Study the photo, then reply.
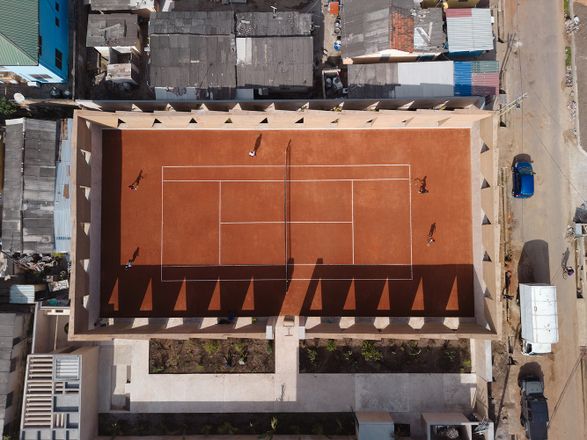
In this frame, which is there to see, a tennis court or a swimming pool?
tennis court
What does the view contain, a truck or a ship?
truck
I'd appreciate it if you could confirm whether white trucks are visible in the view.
Yes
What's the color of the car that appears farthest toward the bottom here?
black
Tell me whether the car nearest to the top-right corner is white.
No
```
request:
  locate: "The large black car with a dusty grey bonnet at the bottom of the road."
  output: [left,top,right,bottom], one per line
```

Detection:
[517,378,548,440]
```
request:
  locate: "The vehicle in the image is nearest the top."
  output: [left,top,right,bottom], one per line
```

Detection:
[510,158,535,198]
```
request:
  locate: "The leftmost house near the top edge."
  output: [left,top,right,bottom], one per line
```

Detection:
[0,0,68,86]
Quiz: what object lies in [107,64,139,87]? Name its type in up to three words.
shed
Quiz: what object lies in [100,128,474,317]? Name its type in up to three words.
tennis court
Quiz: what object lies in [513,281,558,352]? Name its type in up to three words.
truck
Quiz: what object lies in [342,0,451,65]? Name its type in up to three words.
house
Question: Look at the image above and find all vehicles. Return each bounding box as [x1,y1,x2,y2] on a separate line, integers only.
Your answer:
[513,281,558,352]
[510,158,535,198]
[517,378,548,440]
